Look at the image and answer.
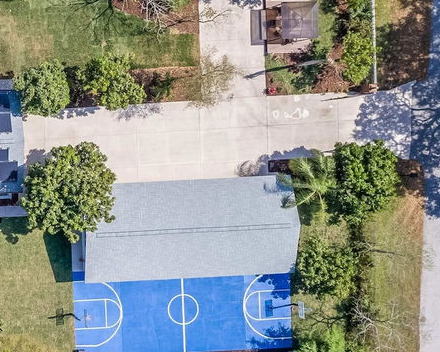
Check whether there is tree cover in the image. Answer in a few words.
Yes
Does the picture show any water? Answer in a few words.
No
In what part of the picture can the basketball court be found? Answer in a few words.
bottom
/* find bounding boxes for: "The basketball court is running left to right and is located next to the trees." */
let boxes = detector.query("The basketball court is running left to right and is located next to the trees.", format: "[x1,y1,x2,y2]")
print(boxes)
[74,268,293,352]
